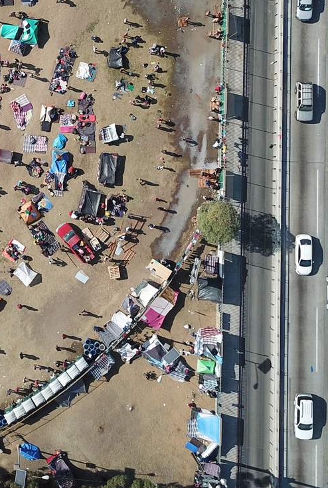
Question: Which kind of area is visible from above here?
sports ground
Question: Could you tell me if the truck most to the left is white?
No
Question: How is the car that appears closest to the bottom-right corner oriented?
from top to bottom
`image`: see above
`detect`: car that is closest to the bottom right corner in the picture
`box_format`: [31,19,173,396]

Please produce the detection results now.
[292,391,316,439]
